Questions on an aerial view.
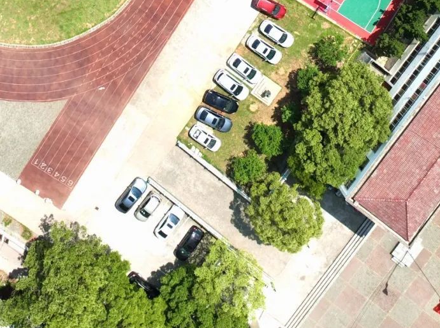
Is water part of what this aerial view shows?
No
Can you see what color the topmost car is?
red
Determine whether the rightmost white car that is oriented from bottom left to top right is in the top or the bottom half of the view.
bottom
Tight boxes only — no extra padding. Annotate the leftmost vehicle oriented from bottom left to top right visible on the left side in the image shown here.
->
[116,176,147,214]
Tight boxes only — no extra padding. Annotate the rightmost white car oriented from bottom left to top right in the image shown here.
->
[153,202,184,242]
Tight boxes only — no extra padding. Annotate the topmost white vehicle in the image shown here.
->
[256,19,294,48]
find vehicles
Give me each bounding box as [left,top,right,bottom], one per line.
[256,19,294,48]
[173,224,204,263]
[116,176,147,214]
[153,202,184,242]
[194,104,232,132]
[127,268,161,297]
[185,123,224,151]
[201,87,239,115]
[244,35,282,63]
[212,68,249,99]
[225,54,262,83]
[249,0,287,20]
[135,188,164,223]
